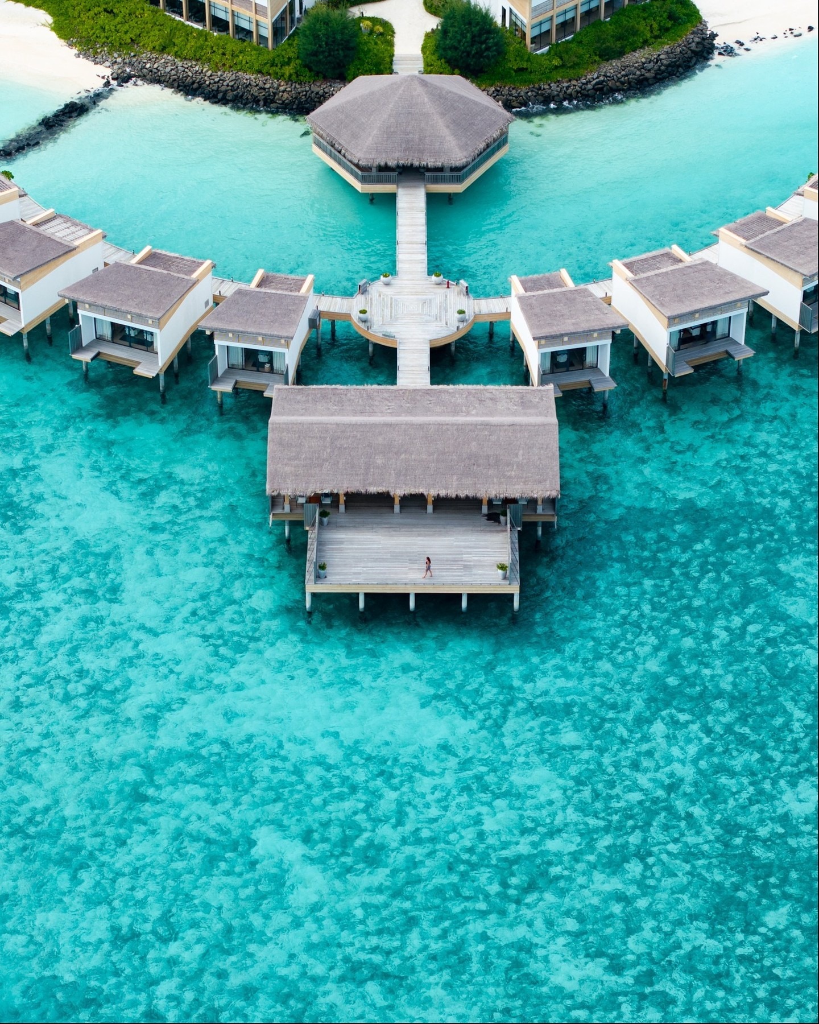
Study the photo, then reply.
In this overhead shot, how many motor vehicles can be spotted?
0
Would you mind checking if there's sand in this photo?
Yes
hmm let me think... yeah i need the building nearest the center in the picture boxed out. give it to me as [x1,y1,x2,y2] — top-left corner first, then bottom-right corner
[266,382,562,644]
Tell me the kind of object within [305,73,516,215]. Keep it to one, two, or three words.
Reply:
building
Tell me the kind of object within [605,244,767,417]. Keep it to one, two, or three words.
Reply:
house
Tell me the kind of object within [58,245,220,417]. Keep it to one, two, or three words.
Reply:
house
